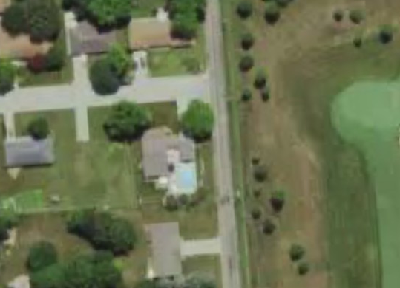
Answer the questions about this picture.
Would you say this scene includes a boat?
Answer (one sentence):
No, there appears to be no boat in this shot.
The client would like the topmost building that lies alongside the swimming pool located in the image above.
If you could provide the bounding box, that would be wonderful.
[140,123,194,176]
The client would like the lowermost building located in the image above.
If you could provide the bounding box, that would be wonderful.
[150,222,179,279]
